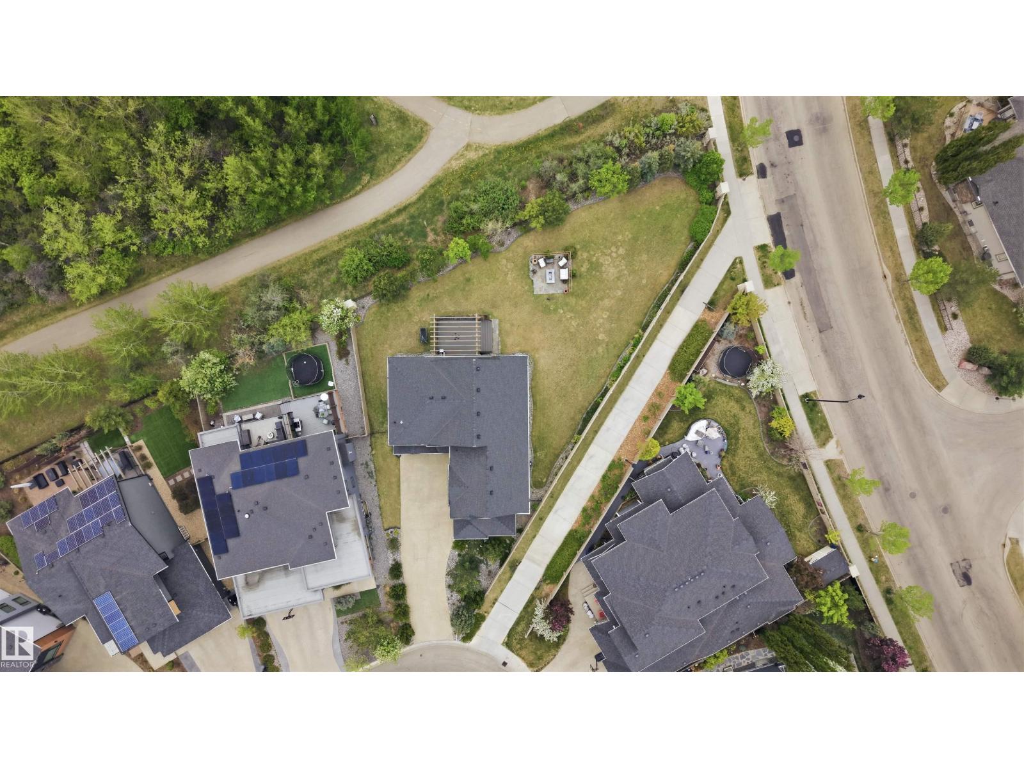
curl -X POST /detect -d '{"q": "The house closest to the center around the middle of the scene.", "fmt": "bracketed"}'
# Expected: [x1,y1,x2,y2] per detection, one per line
[387,354,531,540]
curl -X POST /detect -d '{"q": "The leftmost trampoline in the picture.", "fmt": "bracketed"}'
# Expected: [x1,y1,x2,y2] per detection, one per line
[284,351,326,388]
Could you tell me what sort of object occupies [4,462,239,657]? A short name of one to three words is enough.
house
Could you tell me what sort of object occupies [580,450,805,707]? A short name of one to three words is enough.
house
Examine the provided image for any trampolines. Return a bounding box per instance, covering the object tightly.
[284,351,326,388]
[716,344,759,381]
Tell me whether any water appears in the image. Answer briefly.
No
